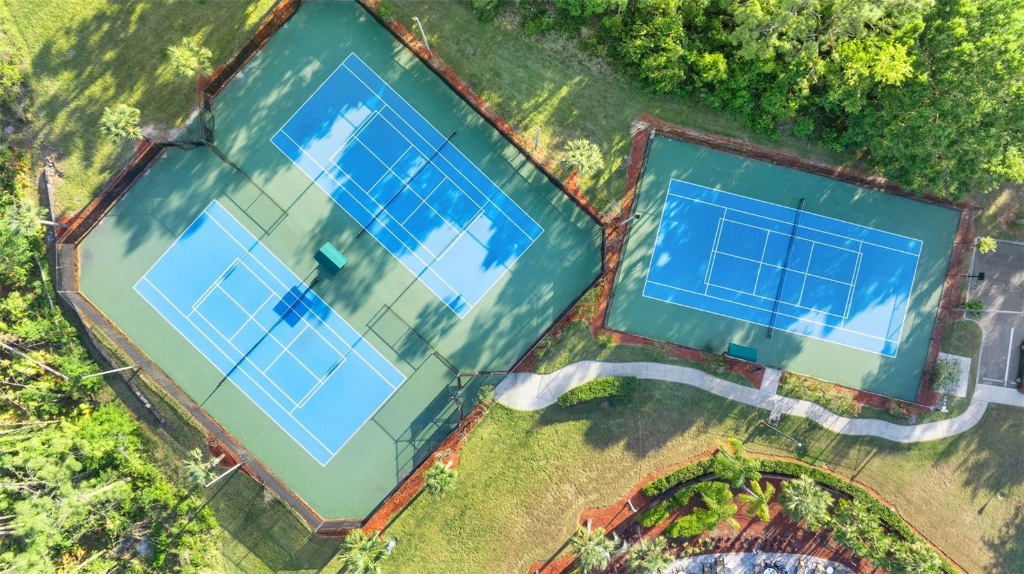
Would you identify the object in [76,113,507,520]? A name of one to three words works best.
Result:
tennis court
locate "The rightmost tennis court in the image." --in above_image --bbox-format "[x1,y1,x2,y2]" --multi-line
[605,134,962,403]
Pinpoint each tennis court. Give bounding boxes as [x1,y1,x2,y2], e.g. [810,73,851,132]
[76,113,507,520]
[605,134,962,403]
[213,0,604,373]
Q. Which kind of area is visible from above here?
sports ground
